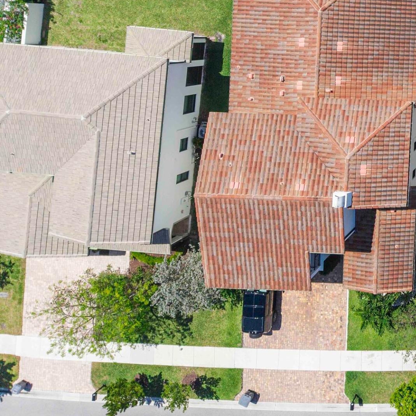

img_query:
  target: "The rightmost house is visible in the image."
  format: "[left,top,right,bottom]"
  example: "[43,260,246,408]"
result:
[192,0,416,294]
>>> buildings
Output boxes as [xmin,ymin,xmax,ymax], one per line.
[0,24,209,258]
[192,0,416,294]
